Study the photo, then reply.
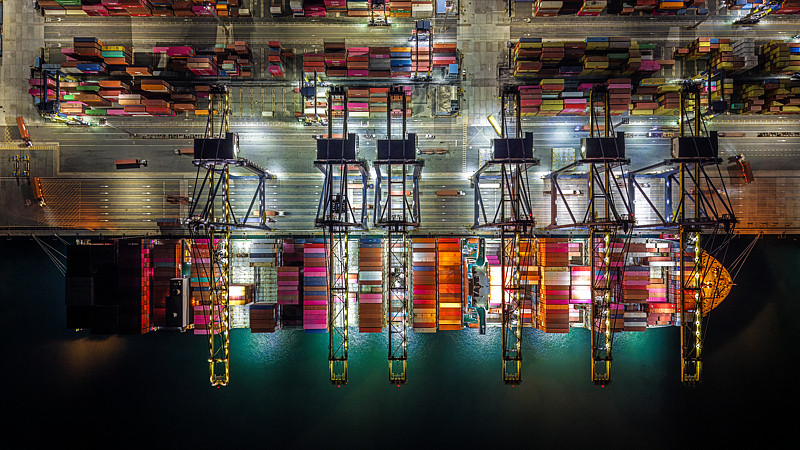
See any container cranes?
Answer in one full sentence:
Yes, a container crane is visible in the scene.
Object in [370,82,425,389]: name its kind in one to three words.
container crane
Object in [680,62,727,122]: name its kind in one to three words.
crane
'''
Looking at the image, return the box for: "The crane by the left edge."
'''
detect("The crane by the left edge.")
[40,62,89,122]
